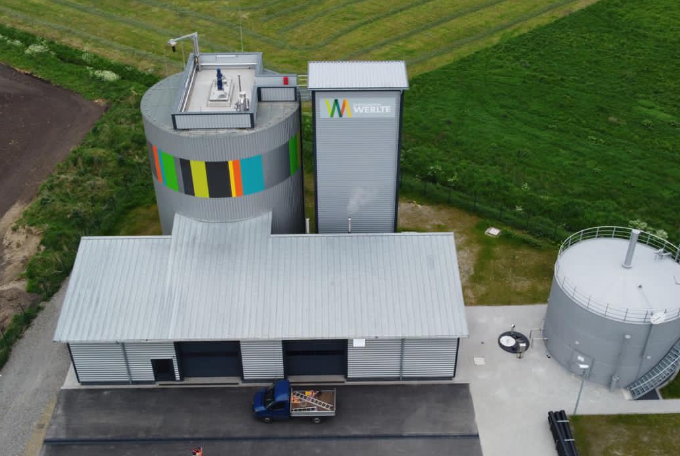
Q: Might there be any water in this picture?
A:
No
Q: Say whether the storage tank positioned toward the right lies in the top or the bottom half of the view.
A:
bottom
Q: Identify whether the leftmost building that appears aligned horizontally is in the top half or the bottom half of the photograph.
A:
bottom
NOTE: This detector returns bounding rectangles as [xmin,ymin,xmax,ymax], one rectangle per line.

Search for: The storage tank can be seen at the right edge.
[542,226,680,391]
